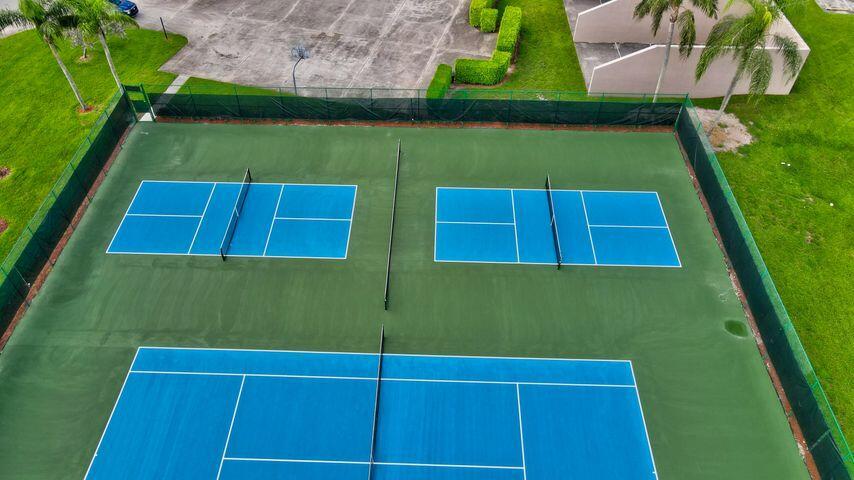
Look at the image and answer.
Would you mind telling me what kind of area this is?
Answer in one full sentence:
What you see here is a sports ground.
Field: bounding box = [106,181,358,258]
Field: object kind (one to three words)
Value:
sports court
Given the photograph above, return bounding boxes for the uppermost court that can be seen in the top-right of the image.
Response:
[561,0,811,100]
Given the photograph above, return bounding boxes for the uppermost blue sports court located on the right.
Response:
[435,188,681,267]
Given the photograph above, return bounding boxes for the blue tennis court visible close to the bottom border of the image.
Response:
[85,348,657,480]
